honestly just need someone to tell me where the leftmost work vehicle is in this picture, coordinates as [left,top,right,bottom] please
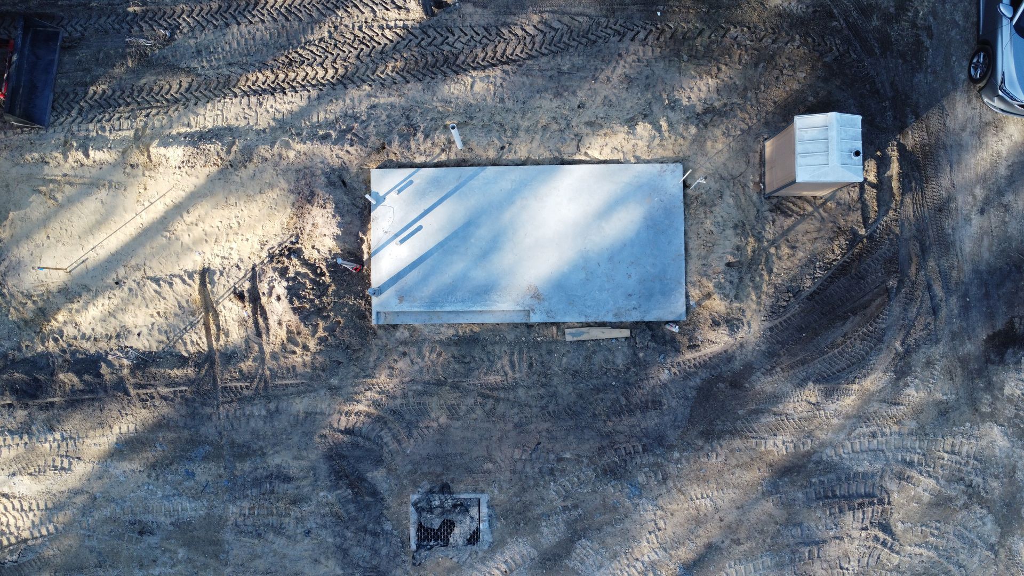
[0,18,62,129]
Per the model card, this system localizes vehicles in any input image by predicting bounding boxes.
[972,0,1024,121]
[0,18,62,129]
